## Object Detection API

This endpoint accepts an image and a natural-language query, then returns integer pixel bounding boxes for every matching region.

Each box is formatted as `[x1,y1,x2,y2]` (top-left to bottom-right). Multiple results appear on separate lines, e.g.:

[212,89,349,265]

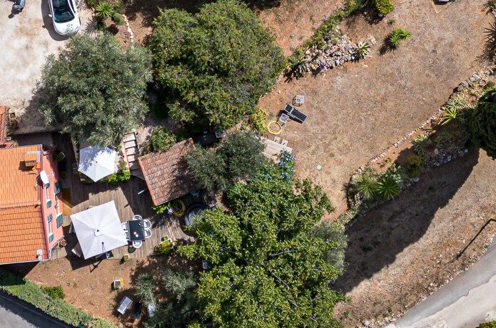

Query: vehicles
[50,0,83,39]
[11,0,22,10]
